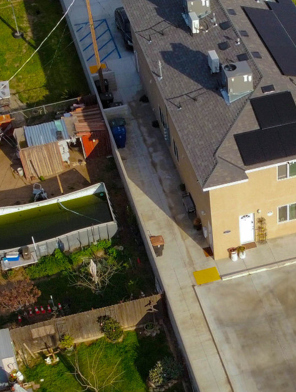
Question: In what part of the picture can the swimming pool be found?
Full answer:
The swimming pool appears toward the left of the photo.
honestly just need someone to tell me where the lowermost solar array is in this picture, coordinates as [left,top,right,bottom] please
[233,90,296,167]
